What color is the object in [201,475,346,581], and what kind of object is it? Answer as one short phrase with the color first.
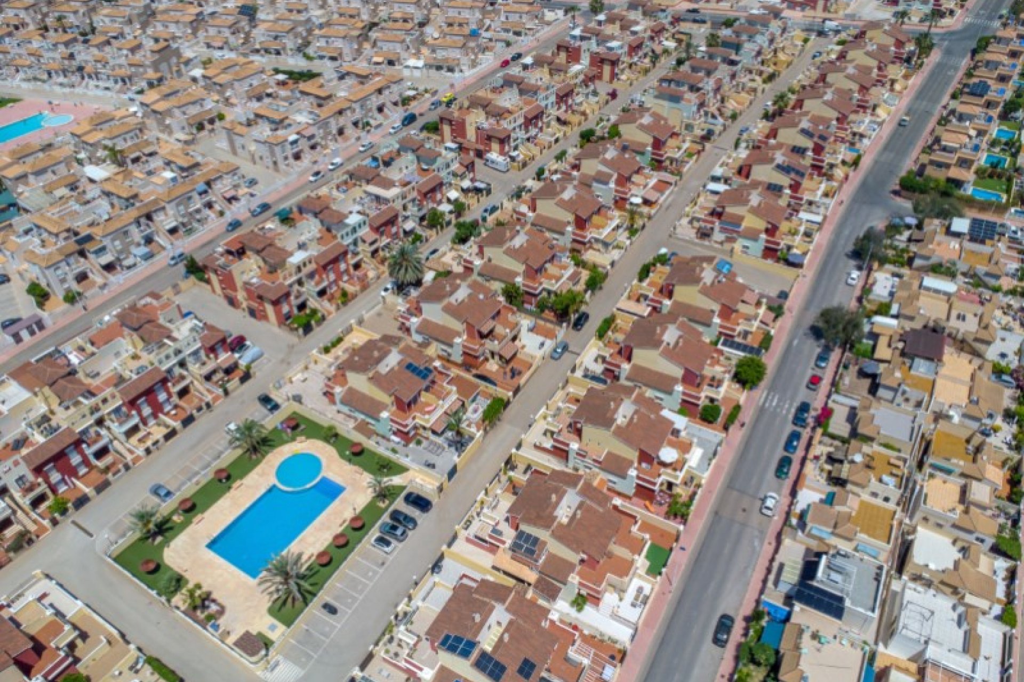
blue swimming pool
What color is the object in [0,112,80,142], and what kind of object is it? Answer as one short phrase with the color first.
blue swimming pool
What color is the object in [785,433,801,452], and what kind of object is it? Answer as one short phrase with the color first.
blue car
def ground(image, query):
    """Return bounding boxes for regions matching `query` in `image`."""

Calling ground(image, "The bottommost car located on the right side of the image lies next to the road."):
[711,613,734,649]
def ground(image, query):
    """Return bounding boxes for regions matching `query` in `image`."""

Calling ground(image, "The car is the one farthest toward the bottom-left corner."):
[150,485,173,502]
